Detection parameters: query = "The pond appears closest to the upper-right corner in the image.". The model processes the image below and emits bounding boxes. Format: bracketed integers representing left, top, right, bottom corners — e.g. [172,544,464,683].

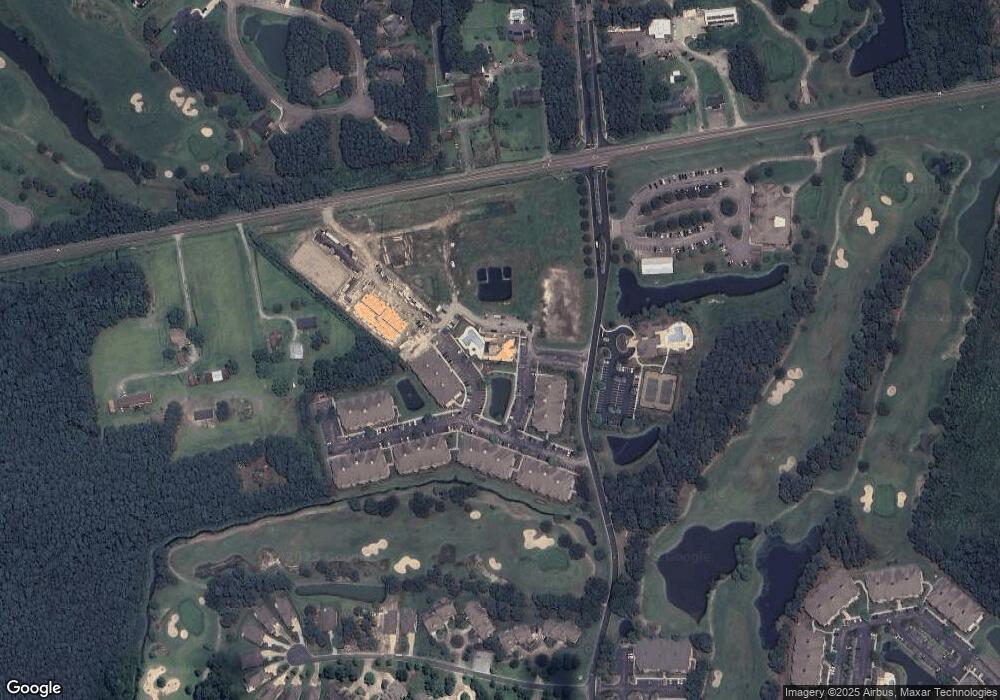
[850,0,907,77]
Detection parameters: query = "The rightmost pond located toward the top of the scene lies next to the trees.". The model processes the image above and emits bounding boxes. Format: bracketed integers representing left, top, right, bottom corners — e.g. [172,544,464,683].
[957,170,1000,293]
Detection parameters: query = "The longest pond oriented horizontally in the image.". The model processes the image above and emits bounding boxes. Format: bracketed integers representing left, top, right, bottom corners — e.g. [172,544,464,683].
[617,265,789,316]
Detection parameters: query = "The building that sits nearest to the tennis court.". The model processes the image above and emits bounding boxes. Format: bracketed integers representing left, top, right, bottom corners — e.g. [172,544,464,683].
[642,322,663,356]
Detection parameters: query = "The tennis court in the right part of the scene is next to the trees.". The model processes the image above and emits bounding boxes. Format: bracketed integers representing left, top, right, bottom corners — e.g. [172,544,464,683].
[641,372,678,410]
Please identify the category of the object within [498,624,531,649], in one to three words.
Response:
house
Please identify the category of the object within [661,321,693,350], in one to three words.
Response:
swimming pool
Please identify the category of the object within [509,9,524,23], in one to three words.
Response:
swimming pool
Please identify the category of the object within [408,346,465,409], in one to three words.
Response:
building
